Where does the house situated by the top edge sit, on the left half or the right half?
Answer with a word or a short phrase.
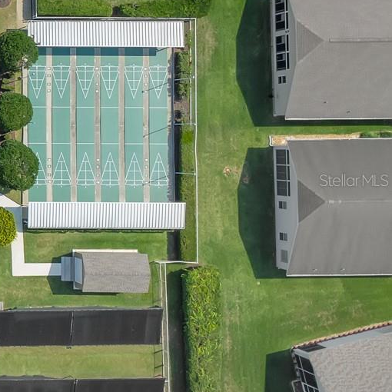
right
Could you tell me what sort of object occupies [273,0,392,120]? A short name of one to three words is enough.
house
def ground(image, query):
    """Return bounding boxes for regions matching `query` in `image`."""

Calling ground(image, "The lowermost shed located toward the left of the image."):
[60,249,153,294]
